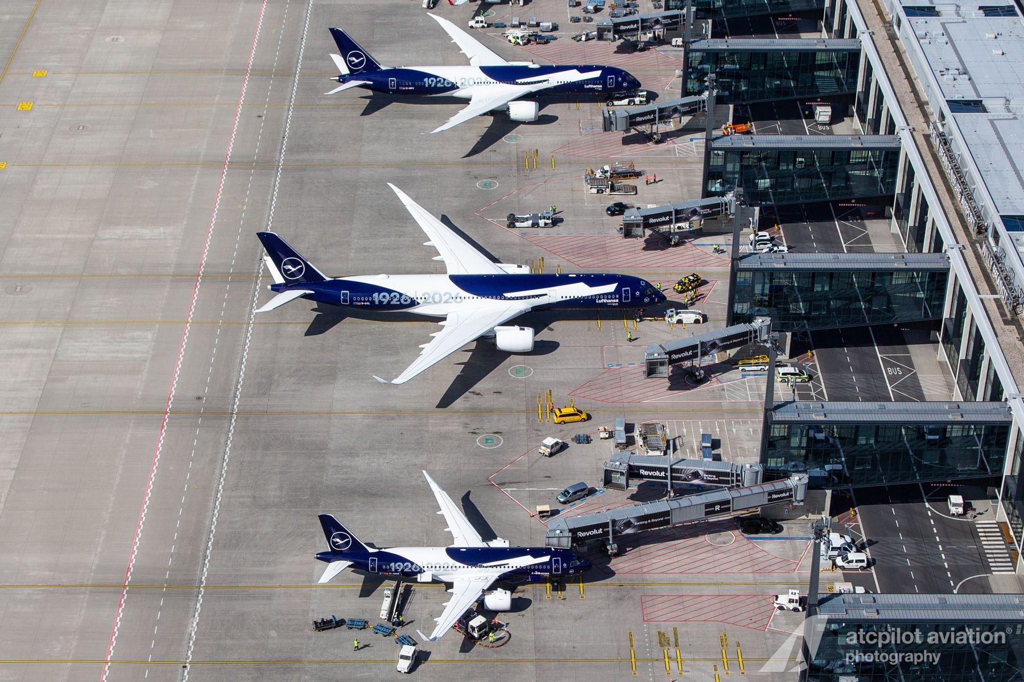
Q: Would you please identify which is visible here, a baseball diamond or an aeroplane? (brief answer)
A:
aeroplane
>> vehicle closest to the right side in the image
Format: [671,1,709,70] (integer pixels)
[948,491,965,513]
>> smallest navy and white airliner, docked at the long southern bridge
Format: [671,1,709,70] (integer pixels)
[316,469,591,635]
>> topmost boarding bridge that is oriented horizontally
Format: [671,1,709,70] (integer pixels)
[595,10,696,52]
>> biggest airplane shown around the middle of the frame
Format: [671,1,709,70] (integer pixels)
[256,182,668,380]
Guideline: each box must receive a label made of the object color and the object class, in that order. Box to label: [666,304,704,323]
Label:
white work vehicle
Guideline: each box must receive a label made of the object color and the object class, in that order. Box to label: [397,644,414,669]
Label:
white work vehicle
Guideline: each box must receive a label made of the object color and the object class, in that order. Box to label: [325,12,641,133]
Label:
white airplane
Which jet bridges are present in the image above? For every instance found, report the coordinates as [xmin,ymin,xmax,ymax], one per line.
[643,318,772,384]
[547,475,811,559]
[595,10,696,52]
[601,93,717,144]
[621,194,742,247]
[601,448,762,503]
